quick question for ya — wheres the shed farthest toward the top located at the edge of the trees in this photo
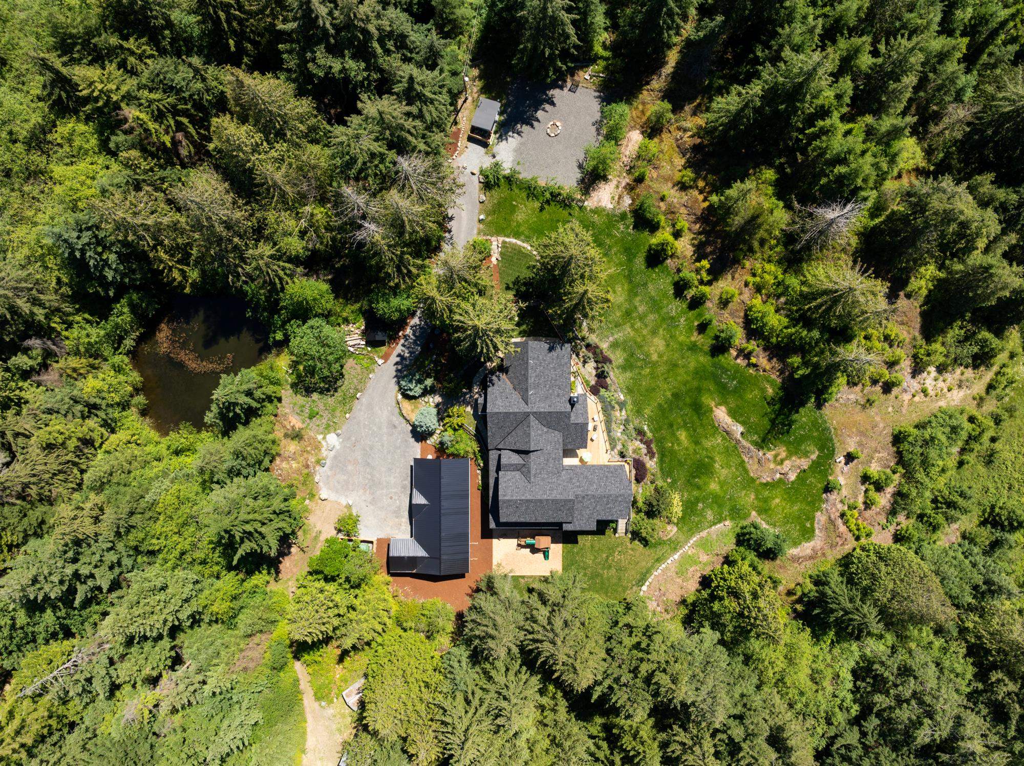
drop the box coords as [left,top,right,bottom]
[469,97,502,148]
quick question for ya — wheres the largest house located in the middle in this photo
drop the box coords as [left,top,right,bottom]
[478,341,632,531]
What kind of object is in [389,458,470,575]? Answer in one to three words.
building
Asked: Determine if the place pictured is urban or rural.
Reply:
rural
